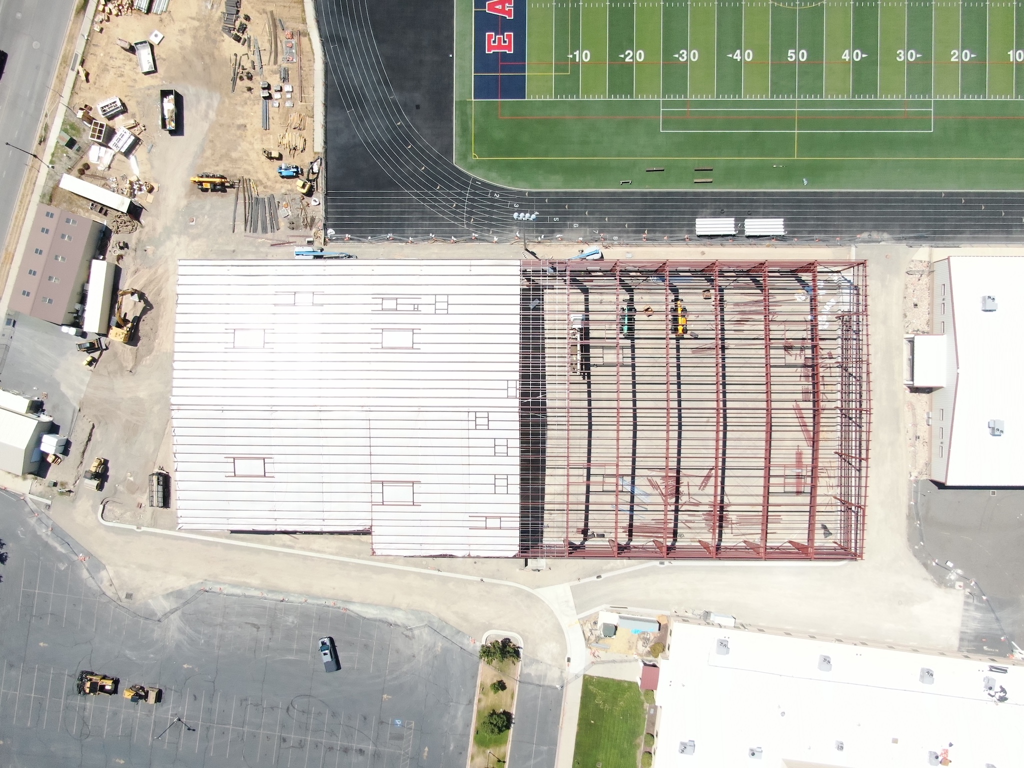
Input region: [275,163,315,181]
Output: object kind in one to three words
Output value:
work vehicle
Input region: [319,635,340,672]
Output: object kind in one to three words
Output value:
truck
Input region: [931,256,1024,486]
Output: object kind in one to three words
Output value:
building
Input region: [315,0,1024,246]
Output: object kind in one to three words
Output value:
running track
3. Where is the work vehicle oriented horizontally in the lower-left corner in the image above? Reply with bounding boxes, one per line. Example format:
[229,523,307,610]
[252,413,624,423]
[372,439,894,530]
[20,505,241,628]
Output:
[125,685,162,703]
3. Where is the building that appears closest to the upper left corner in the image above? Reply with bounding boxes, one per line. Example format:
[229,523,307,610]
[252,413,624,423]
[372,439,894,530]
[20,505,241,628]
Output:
[7,203,105,326]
